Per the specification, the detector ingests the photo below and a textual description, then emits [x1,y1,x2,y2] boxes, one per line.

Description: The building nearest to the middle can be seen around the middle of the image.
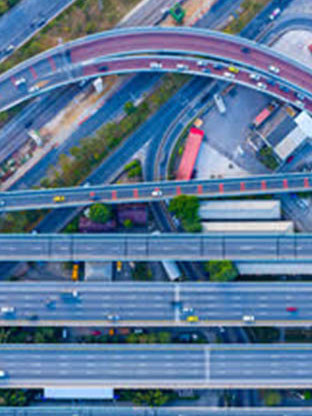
[116,206,147,226]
